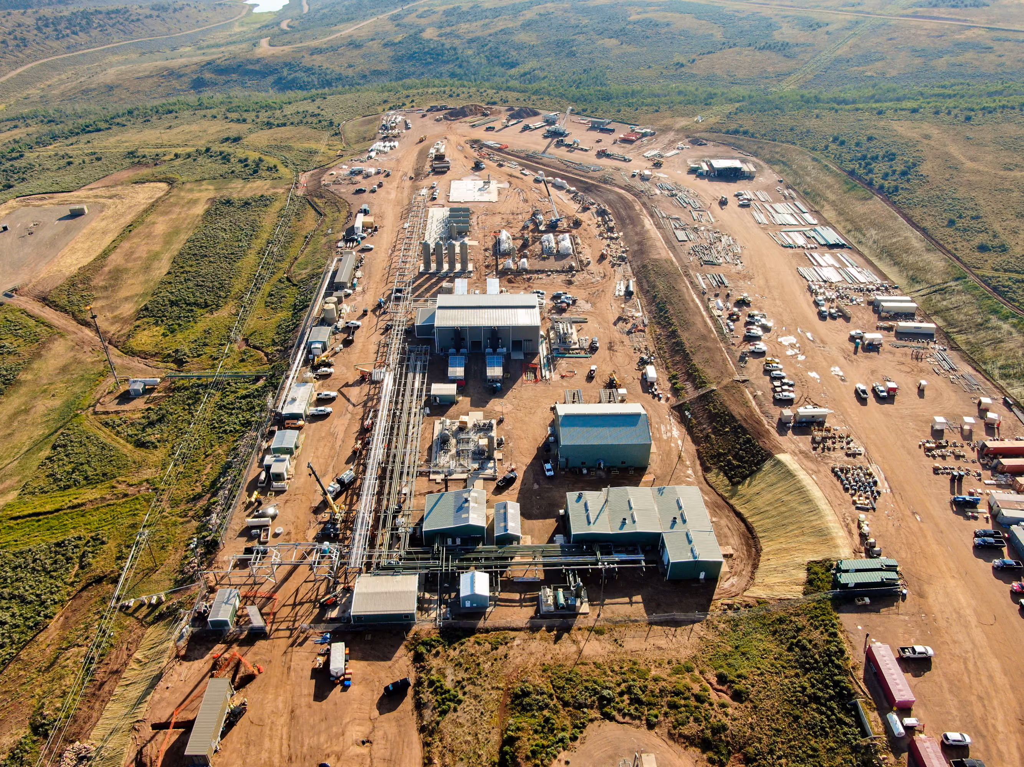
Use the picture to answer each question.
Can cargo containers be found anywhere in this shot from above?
Yes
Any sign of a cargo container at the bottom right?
Yes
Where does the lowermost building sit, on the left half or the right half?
left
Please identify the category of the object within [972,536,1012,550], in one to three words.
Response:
vehicle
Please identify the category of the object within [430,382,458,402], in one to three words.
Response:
shed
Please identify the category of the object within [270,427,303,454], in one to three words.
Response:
building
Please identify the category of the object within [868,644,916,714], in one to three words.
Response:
shipping container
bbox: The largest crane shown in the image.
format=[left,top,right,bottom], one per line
[305,459,358,540]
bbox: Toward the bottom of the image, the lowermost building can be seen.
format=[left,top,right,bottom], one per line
[183,677,241,767]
